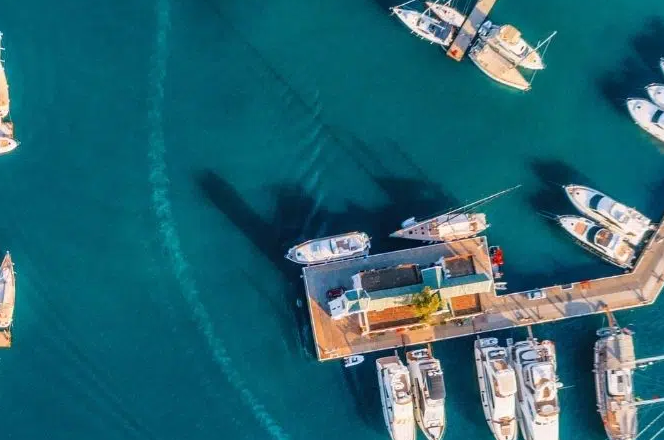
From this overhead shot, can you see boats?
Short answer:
Yes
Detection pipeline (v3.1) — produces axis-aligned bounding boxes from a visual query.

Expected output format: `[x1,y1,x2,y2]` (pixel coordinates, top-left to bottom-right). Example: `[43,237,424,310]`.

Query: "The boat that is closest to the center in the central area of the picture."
[283,232,369,263]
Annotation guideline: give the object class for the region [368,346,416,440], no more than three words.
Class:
boat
